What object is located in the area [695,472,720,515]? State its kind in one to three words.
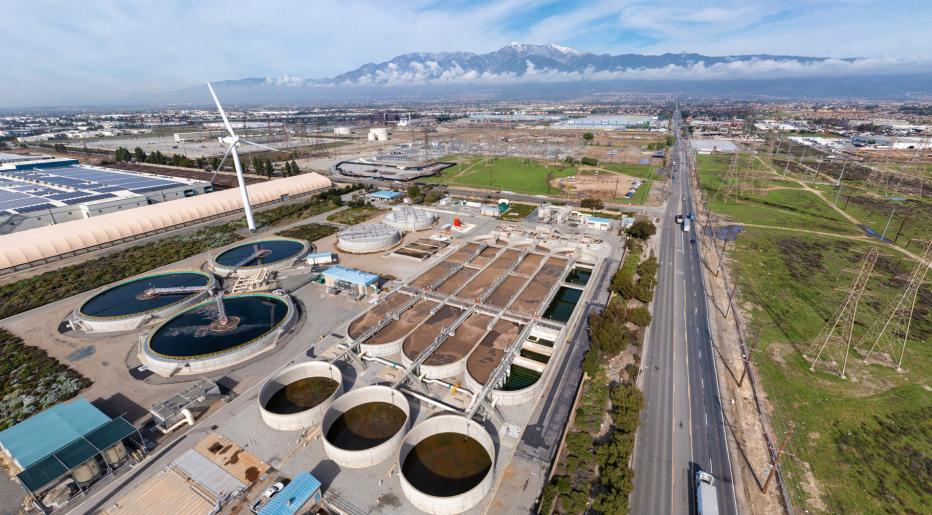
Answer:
truck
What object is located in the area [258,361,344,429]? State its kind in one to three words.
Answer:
storage tank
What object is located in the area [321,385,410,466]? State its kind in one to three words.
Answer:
storage tank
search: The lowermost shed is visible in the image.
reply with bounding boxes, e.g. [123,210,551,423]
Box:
[260,472,322,515]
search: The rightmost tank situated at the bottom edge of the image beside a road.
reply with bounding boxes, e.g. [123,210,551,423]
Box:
[399,414,496,513]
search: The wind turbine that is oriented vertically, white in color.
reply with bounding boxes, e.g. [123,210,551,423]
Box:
[211,85,279,232]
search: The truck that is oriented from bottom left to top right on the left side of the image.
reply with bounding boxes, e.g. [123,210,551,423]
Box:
[250,483,287,514]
